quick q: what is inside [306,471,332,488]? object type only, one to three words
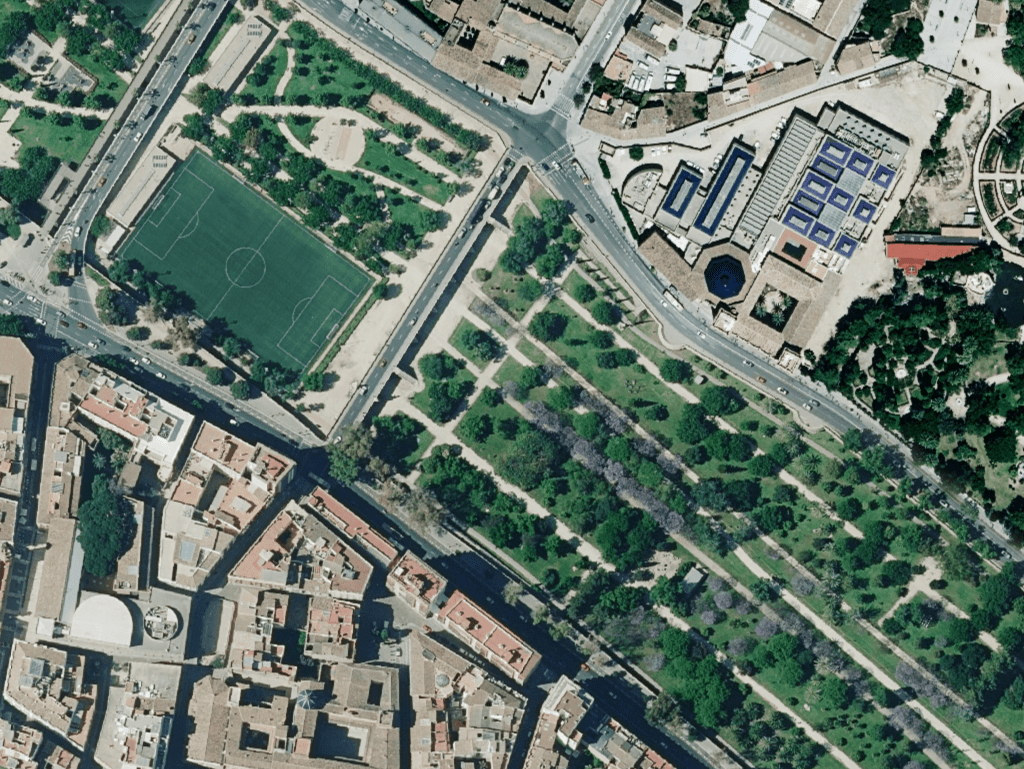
vehicle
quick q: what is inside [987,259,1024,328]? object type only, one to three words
pond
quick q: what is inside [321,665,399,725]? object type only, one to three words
building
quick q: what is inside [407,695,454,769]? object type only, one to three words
house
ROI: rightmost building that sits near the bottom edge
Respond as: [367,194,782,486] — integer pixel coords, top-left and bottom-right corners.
[584,718,674,769]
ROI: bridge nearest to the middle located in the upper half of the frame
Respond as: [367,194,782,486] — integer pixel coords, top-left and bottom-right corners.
[328,145,537,440]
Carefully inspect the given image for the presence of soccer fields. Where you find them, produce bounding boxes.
[102,146,378,370]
